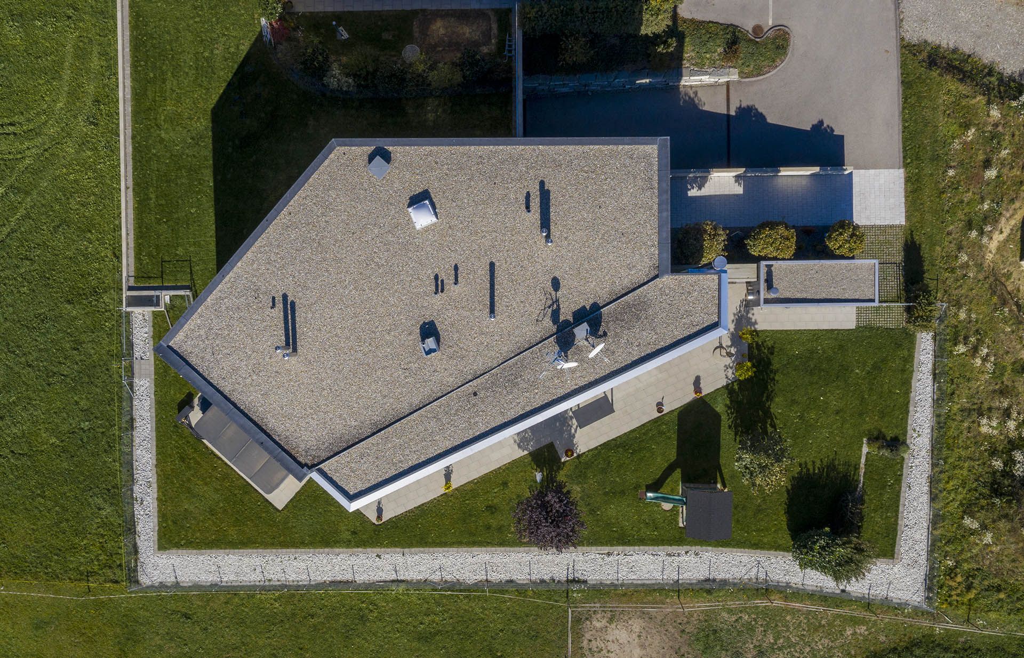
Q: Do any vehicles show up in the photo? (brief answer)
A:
No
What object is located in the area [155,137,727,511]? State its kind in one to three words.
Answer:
house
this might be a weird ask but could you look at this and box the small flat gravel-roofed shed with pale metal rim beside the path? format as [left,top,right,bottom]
[744,260,878,307]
